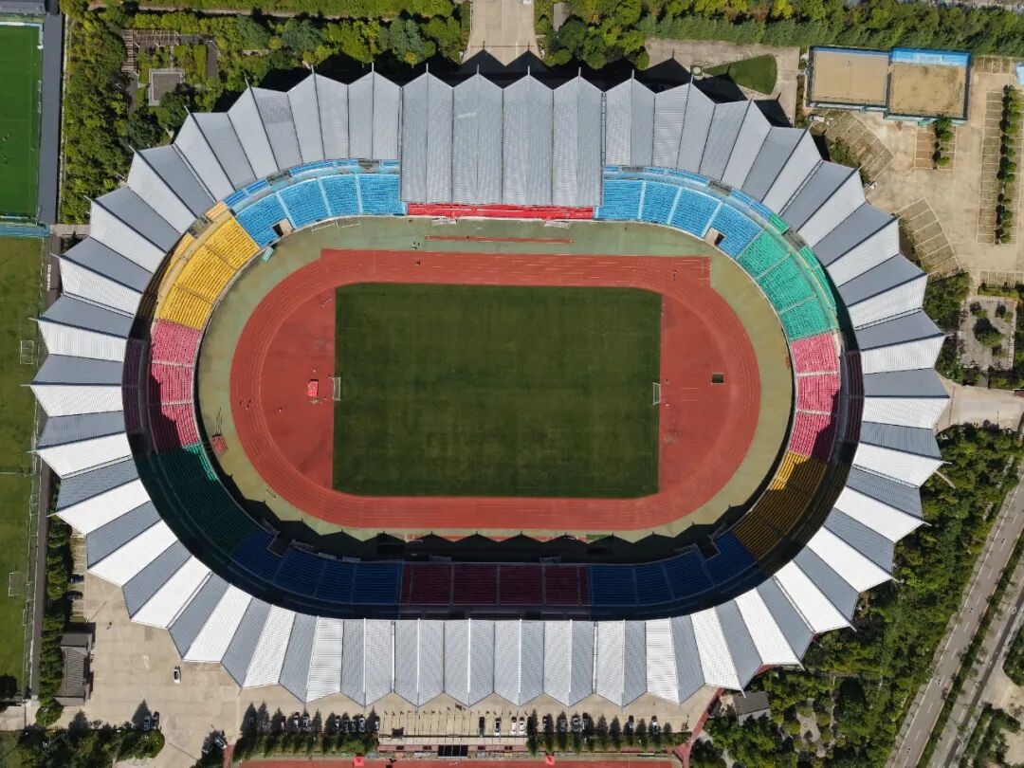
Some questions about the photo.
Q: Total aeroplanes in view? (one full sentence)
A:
I count no aeroplanes.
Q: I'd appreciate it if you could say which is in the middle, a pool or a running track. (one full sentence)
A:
The one visible in the middle is a running track.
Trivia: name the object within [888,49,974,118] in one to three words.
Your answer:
sports court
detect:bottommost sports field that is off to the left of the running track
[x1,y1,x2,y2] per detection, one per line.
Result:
[0,237,43,697]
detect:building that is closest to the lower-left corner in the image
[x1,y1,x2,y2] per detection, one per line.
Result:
[58,628,96,704]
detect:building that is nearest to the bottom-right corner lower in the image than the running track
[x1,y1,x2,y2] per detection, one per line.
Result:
[729,685,773,725]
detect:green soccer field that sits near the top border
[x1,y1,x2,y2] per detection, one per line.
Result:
[0,26,40,219]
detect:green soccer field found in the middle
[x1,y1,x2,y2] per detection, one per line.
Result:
[333,281,660,499]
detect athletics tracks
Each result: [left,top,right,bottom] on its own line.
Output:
[232,247,761,532]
